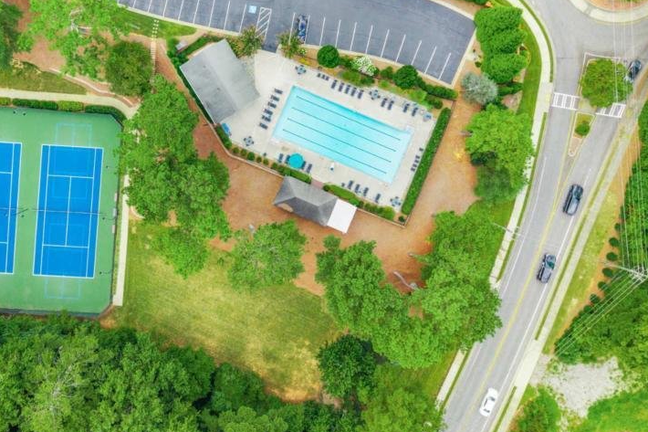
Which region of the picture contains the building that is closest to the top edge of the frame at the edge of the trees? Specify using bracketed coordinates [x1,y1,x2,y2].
[180,38,261,123]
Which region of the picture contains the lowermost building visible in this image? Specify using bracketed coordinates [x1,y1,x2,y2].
[273,176,339,227]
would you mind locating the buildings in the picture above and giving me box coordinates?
[180,38,261,123]
[273,176,339,227]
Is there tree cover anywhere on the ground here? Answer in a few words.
Yes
